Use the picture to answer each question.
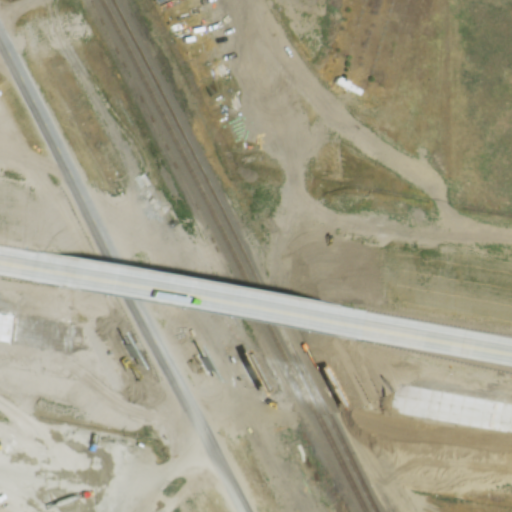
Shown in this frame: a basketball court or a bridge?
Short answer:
bridge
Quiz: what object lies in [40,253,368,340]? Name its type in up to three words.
bridge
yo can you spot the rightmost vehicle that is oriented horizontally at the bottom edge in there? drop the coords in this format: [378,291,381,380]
[46,491,96,508]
